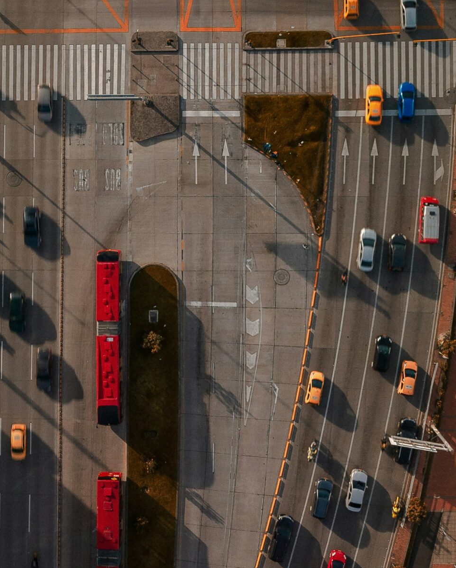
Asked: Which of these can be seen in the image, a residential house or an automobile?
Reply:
automobile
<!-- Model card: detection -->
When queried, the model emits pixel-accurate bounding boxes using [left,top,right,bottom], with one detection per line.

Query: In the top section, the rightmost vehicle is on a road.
[414,195,443,245]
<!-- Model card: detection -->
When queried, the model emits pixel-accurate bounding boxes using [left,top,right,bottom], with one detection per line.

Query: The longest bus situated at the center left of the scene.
[95,252,124,425]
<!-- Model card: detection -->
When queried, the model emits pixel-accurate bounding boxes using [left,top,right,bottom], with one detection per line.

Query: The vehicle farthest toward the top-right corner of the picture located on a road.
[398,0,419,31]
